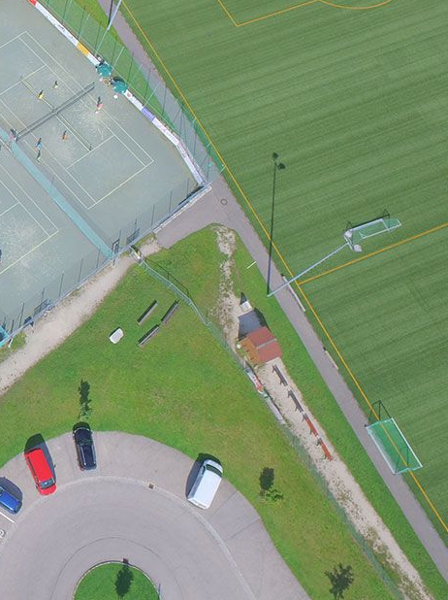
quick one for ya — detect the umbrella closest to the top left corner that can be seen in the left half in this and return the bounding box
[96,64,111,81]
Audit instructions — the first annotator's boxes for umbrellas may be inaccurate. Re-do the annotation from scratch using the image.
[96,64,111,81]
[111,79,128,96]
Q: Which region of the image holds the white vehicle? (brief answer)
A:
bottom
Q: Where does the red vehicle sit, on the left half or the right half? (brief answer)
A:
left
